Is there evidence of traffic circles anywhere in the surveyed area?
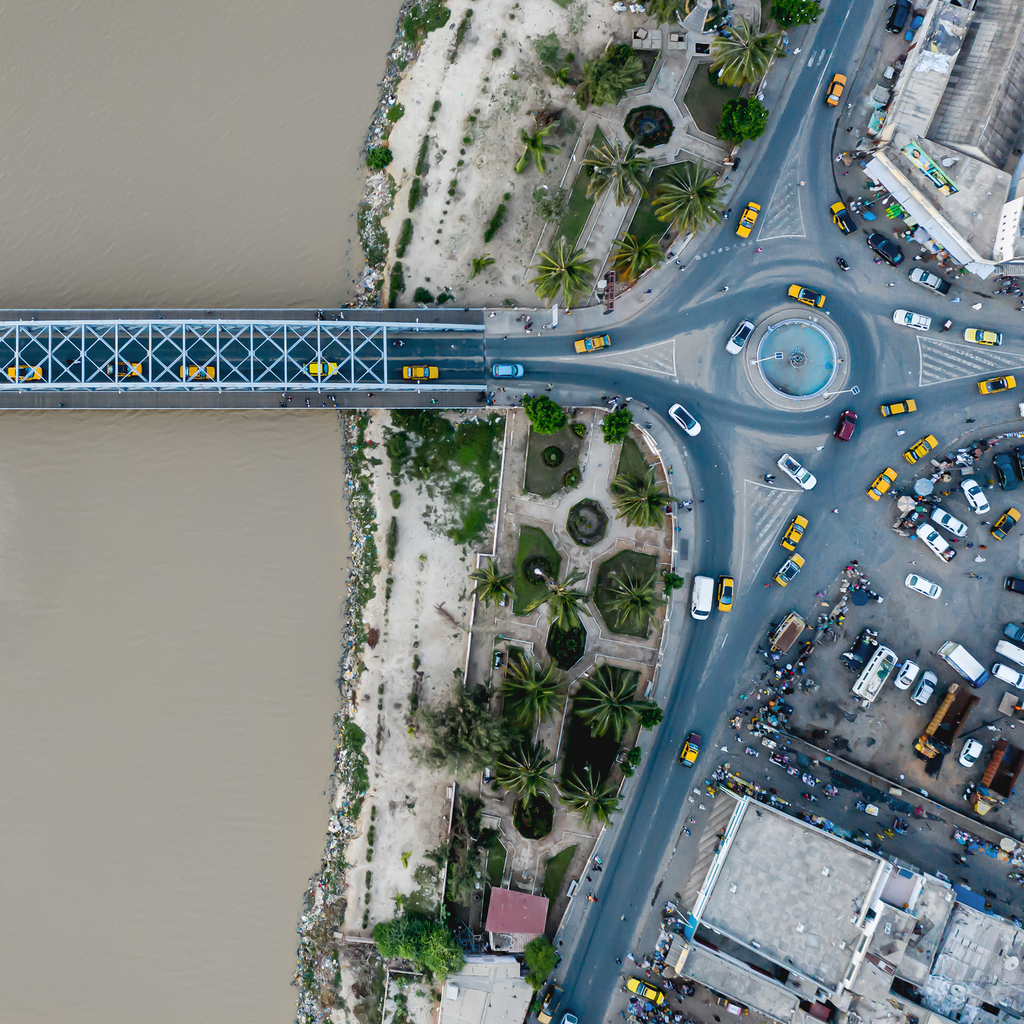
Yes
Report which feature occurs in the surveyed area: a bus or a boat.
bus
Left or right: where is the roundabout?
right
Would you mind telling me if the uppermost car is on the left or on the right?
right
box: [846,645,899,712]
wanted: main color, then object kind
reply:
white bus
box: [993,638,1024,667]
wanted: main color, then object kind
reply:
white van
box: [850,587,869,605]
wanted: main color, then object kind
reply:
blue umbrella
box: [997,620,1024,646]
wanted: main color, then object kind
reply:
blue car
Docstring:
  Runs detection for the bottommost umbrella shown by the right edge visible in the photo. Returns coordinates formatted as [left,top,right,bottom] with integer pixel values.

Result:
[999,836,1016,852]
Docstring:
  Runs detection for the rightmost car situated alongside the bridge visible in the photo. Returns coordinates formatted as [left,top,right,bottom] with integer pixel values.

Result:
[491,362,524,378]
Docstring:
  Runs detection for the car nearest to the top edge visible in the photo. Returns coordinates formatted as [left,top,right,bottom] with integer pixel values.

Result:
[886,0,916,37]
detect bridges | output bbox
[0,307,486,410]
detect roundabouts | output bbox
[747,307,850,410]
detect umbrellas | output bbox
[662,966,677,980]
[897,495,916,513]
[914,477,933,497]
[779,701,795,717]
[850,587,869,605]
[999,836,1016,852]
